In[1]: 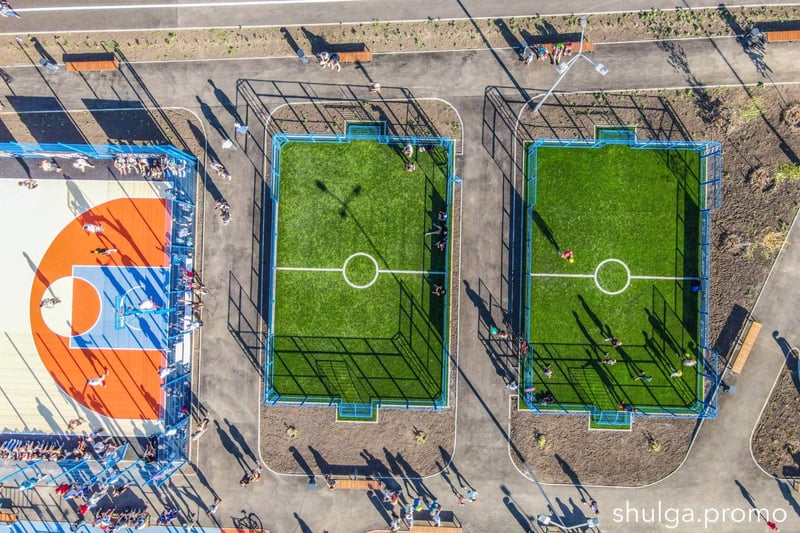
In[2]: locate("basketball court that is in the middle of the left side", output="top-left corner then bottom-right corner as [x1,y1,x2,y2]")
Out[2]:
[0,152,198,462]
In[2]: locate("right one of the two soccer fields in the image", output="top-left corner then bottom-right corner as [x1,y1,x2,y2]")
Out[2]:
[517,122,710,431]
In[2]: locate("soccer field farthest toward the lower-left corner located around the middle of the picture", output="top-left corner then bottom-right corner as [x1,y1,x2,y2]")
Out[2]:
[270,117,458,423]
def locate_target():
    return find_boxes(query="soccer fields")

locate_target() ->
[517,122,710,431]
[270,117,458,423]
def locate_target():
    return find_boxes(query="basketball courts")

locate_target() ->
[0,152,198,462]
[0,522,273,533]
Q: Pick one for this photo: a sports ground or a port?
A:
sports ground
